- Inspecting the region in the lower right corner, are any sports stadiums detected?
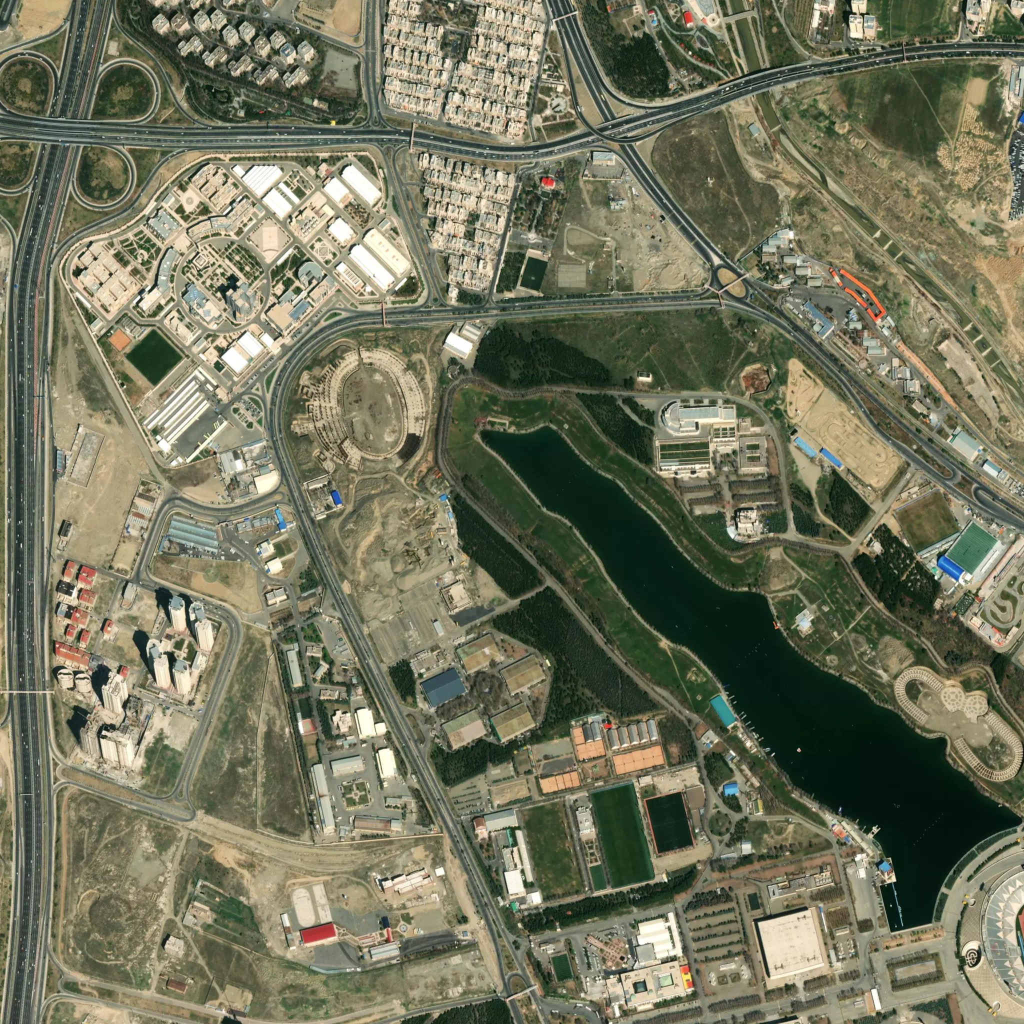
Yes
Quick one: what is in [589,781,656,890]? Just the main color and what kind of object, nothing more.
green soccer field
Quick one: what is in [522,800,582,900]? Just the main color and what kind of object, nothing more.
green sports field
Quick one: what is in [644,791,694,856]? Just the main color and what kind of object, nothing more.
black soccer field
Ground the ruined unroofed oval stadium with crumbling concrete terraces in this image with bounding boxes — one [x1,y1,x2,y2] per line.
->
[316,344,425,473]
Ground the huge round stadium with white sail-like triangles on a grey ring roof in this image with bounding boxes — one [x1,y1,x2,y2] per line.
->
[980,863,1024,998]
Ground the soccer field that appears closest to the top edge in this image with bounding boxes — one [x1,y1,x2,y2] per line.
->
[517,250,551,292]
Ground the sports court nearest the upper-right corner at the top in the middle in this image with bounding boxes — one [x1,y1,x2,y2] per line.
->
[558,265,586,287]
